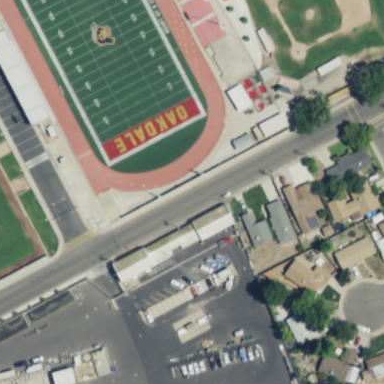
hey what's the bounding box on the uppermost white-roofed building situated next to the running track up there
[228,83,254,112]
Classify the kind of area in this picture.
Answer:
sports ground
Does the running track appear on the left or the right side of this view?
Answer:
left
